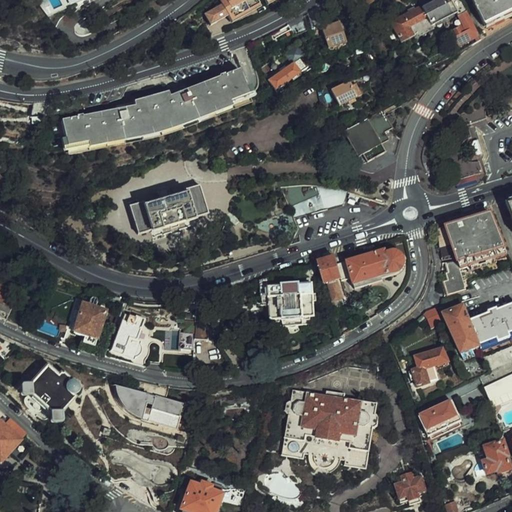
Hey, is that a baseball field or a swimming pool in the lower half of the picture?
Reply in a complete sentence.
The feature located in the lower half of the picture is a swimming pool.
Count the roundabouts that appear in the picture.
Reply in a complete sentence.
In total, 1 roundabout can be seen.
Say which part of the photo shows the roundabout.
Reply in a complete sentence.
The roundabout appears toward the right of the photo.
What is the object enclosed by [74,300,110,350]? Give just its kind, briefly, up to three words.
house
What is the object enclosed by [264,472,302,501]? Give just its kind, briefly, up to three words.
swimming pool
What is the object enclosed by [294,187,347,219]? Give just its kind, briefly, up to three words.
shed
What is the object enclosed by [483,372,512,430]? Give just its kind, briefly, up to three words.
building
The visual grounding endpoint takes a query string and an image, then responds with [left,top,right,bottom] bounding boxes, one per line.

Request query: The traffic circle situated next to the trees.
[384,184,440,234]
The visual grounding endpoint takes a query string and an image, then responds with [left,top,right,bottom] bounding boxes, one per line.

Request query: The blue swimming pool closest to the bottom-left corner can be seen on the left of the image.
[37,320,60,338]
